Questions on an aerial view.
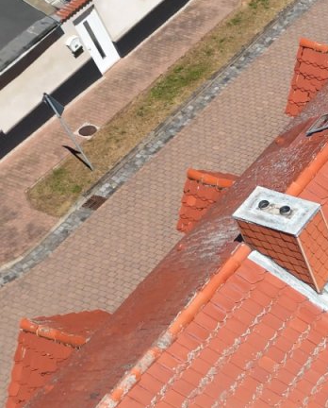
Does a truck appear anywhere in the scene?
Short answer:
No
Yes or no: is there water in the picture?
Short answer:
No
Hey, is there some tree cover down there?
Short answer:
No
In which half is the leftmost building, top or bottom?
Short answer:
top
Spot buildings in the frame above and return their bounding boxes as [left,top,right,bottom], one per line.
[0,4,65,80]
[9,28,328,408]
